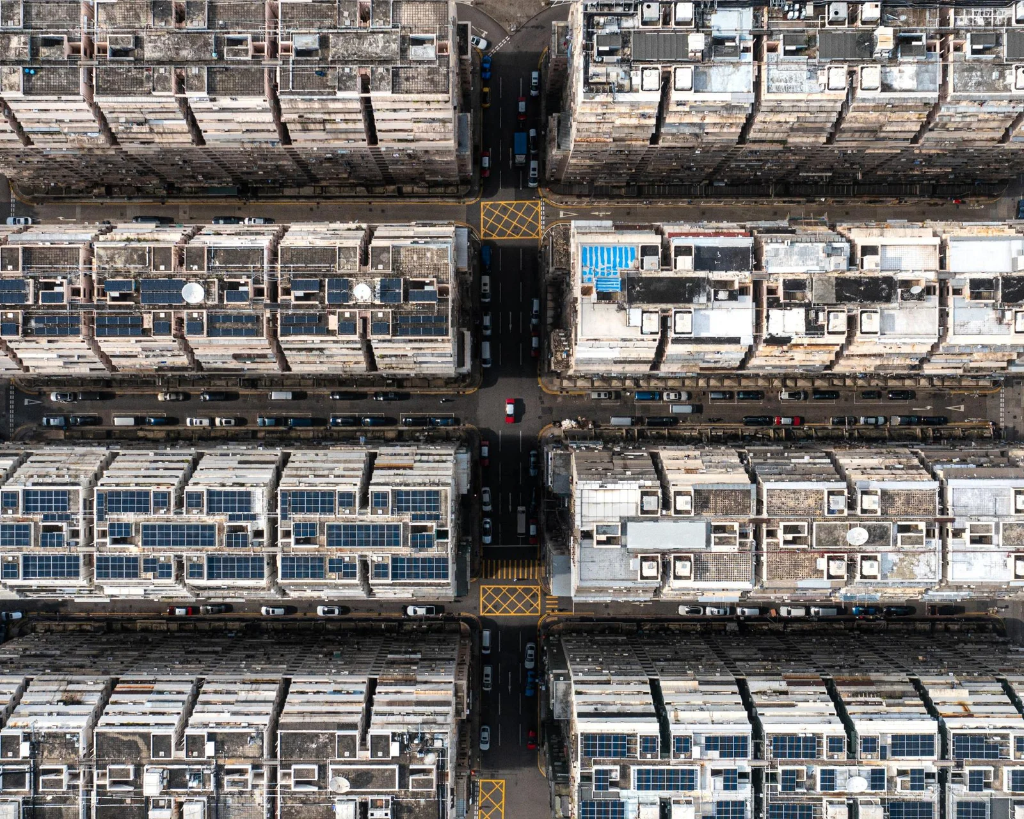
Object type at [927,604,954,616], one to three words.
vehicle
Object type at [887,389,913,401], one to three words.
vehicle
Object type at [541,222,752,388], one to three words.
building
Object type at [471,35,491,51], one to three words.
car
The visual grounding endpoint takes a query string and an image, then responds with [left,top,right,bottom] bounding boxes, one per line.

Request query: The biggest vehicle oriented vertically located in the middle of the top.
[514,129,527,167]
